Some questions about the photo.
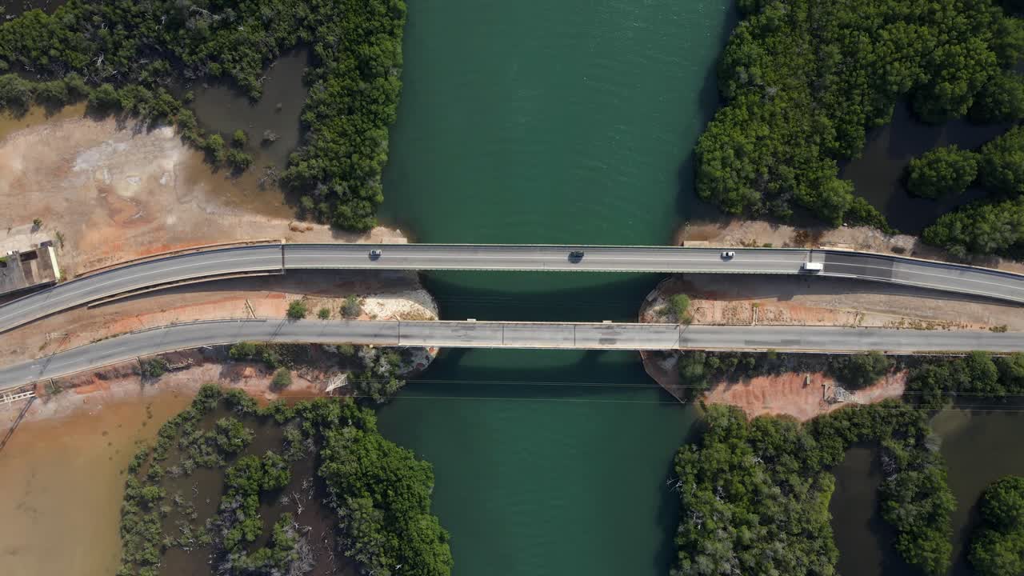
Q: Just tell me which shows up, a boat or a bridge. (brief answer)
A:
bridge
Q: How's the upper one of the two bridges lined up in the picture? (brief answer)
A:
from side to side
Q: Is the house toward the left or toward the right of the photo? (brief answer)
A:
left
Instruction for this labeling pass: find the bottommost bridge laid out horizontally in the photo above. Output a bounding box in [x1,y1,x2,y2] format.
[399,319,680,350]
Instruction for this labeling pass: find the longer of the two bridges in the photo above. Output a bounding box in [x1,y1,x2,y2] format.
[283,238,814,277]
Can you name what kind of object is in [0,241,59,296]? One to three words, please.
house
